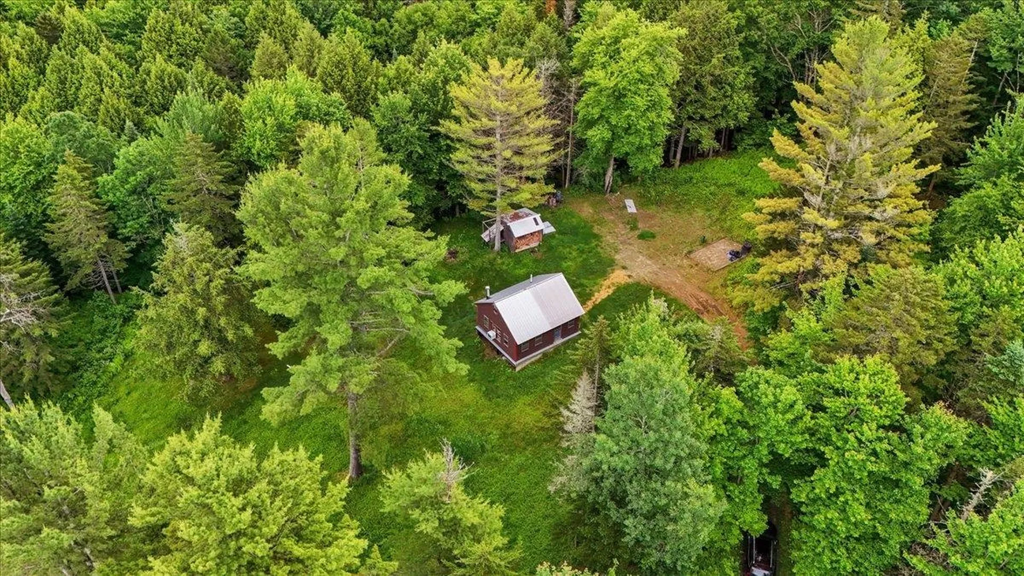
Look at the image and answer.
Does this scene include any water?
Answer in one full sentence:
No, water can't be seen anywhere here.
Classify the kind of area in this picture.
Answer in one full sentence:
This looks like a forest.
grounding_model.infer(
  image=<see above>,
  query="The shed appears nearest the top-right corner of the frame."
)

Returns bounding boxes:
[499,208,545,252]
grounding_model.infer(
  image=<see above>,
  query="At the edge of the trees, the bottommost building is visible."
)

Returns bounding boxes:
[474,272,585,368]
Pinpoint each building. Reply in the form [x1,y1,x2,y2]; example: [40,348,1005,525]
[499,208,545,252]
[474,272,585,368]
